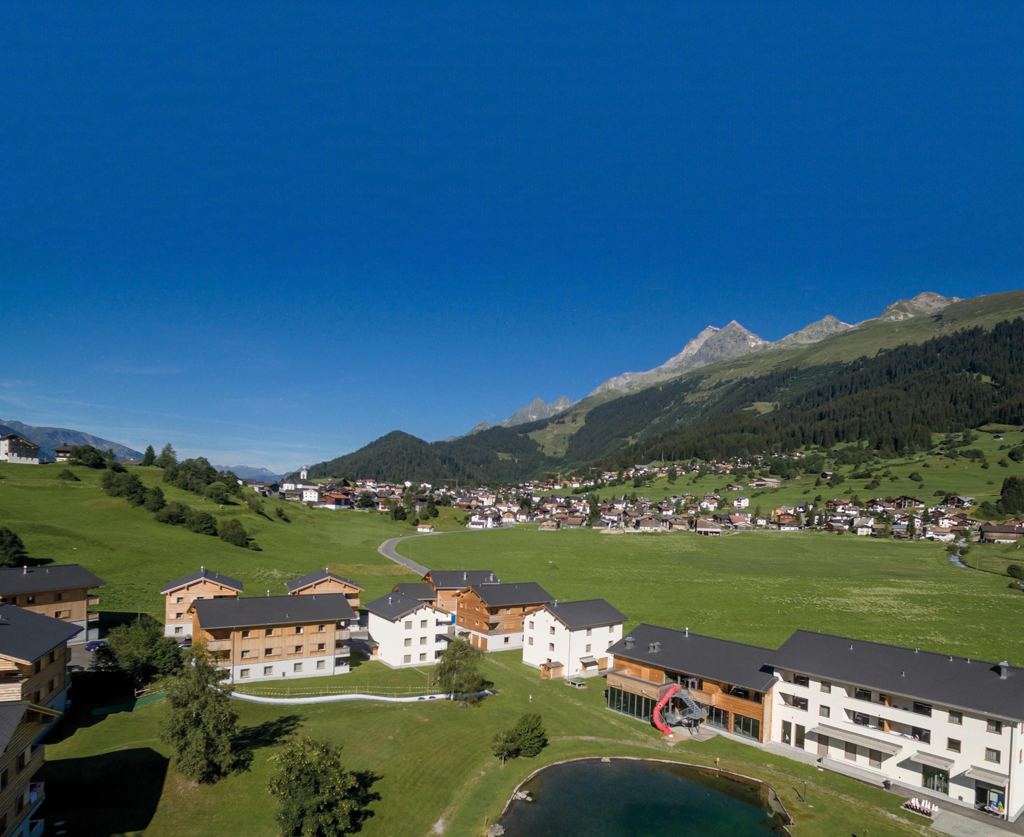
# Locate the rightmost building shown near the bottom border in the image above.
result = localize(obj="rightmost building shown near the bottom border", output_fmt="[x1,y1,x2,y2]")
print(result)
[761,627,1024,823]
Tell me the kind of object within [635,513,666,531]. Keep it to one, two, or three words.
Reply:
building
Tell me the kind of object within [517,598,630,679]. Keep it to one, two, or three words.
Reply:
house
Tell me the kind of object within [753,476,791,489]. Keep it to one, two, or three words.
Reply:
building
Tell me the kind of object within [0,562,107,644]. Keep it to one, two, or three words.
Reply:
house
